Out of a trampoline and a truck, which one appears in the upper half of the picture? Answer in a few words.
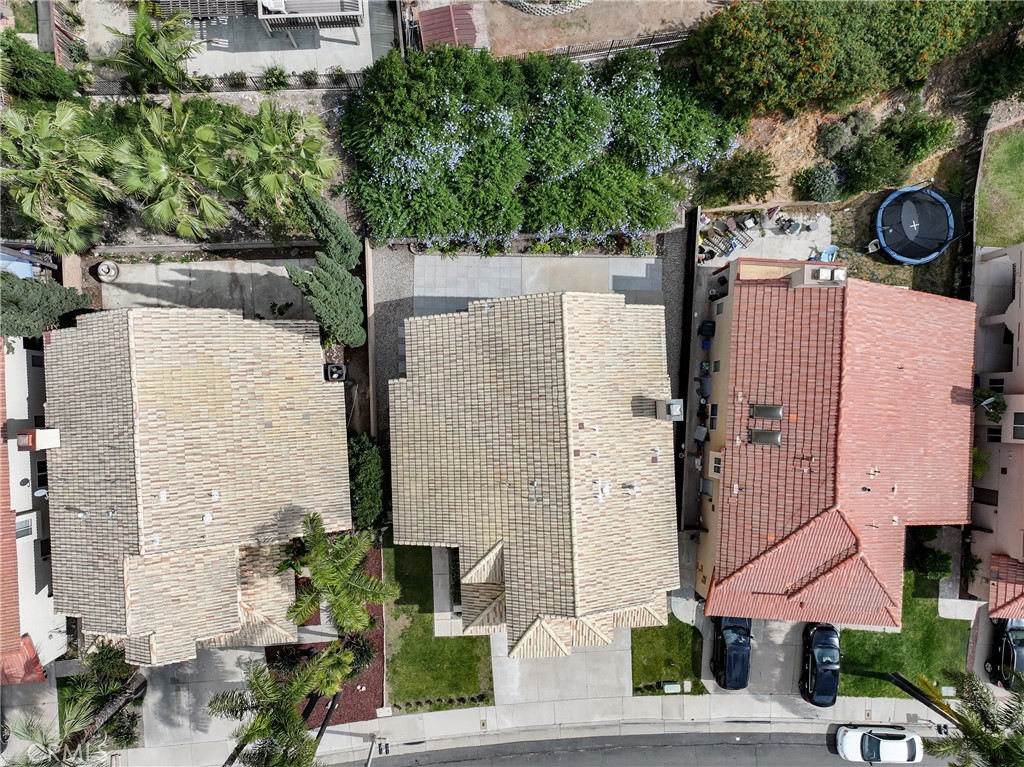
trampoline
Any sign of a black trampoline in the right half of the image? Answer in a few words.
Yes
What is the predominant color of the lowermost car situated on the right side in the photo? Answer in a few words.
white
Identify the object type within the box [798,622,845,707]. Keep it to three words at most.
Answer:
car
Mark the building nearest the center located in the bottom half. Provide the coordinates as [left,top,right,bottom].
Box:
[388,290,685,660]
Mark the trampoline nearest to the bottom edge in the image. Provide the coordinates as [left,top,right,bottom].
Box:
[873,177,972,267]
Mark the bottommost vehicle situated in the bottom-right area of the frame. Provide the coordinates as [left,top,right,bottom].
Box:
[833,722,924,767]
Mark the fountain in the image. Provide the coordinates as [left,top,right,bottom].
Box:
[94,260,117,281]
